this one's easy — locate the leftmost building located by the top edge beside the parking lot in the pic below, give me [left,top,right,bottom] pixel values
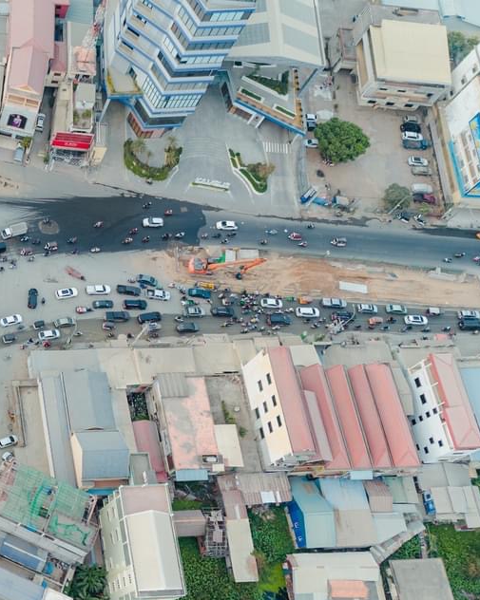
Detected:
[96,0,248,138]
